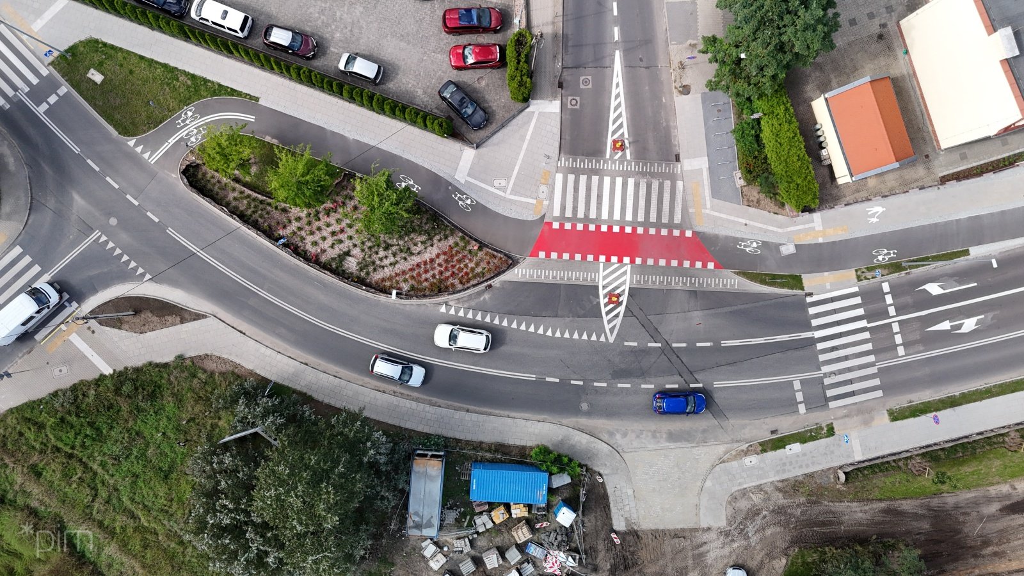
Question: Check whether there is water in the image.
No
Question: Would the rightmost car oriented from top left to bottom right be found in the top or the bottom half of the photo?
top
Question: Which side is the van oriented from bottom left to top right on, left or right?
left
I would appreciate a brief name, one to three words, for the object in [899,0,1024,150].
building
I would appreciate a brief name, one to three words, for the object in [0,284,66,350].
van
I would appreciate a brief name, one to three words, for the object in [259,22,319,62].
car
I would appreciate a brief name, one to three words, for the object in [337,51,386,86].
car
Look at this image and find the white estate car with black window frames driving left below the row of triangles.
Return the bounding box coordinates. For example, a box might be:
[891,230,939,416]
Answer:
[433,322,493,353]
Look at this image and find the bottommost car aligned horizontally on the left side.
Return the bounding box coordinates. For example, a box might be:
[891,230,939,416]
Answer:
[367,353,426,387]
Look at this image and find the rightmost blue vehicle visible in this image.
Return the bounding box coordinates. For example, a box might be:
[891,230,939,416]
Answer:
[651,389,706,418]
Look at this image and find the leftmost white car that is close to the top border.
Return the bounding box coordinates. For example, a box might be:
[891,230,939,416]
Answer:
[188,0,255,41]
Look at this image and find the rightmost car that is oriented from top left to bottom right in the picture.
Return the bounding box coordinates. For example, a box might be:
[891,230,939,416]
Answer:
[436,76,490,133]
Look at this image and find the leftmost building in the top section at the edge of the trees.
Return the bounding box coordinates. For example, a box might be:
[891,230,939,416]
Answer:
[812,71,921,184]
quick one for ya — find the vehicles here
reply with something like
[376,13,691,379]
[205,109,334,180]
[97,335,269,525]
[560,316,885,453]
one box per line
[448,40,504,72]
[127,0,192,23]
[259,22,319,62]
[0,284,66,350]
[651,389,706,418]
[436,76,490,133]
[433,322,493,353]
[442,4,502,36]
[367,353,426,387]
[188,0,255,41]
[337,51,386,86]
